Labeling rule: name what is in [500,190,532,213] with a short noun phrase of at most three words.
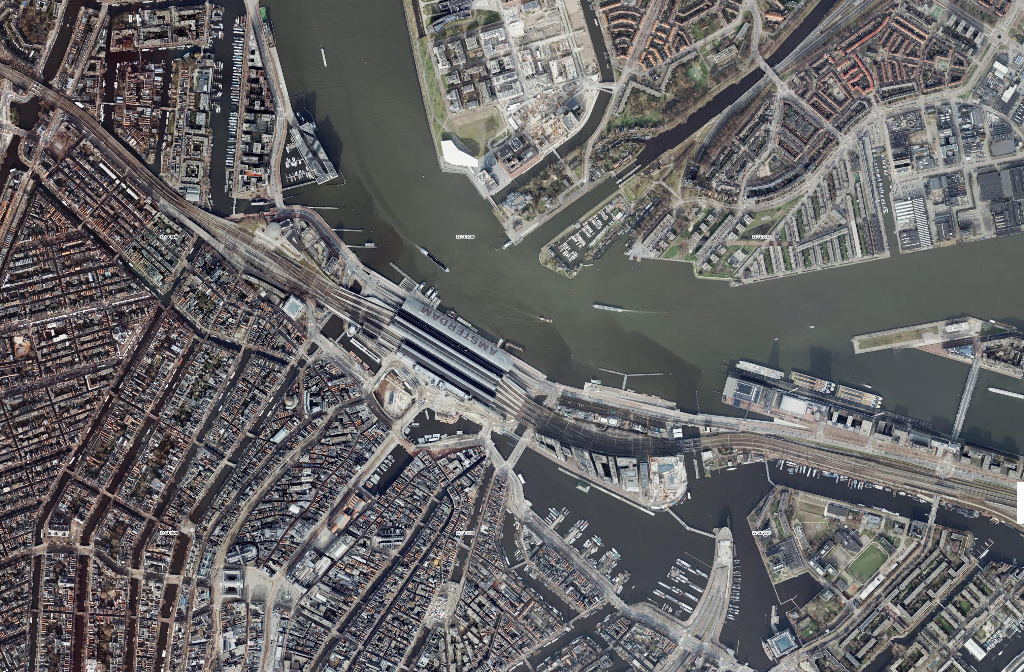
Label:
house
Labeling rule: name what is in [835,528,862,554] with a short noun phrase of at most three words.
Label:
building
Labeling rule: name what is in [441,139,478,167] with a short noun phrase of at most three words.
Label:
building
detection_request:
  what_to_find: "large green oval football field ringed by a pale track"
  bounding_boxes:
[848,543,888,582]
